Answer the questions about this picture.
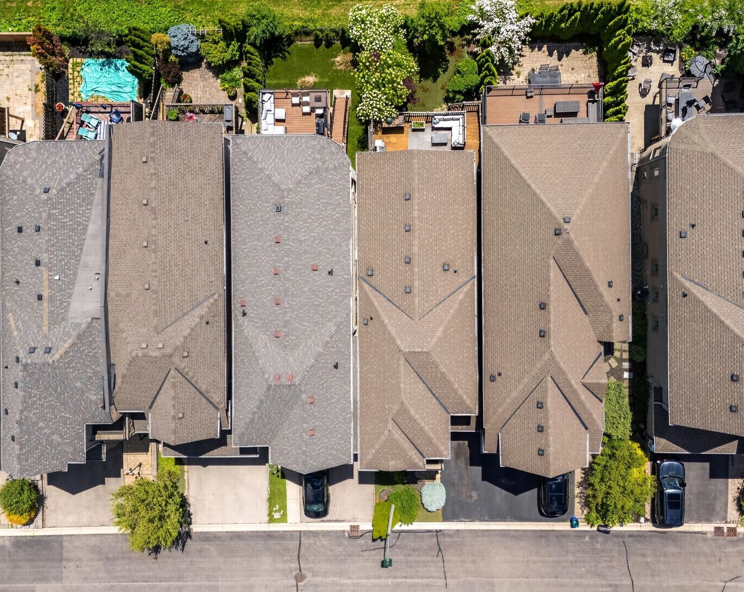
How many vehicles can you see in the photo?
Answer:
3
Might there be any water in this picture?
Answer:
No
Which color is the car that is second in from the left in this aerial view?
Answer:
black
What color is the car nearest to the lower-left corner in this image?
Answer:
black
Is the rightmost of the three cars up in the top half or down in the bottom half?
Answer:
bottom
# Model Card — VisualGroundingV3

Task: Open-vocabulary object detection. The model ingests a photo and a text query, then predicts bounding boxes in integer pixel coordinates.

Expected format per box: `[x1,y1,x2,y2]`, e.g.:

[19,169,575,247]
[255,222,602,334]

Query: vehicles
[539,473,568,515]
[301,469,332,518]
[653,454,688,525]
